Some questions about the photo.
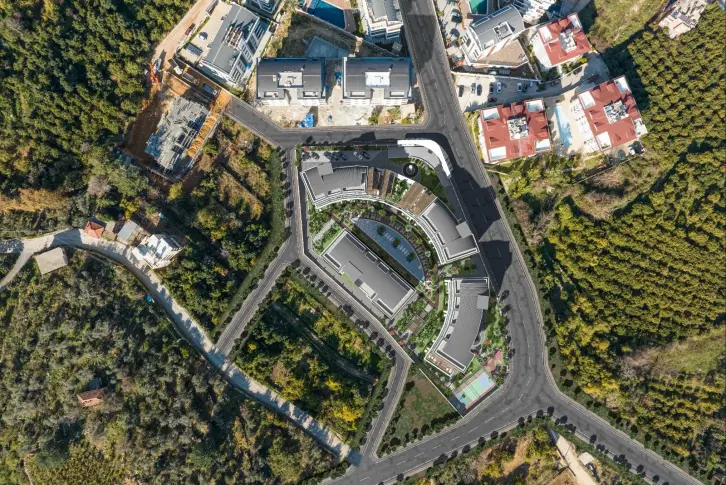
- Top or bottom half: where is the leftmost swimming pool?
top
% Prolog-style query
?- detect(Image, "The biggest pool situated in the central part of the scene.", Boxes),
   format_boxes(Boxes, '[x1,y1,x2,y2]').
[352,218,425,282]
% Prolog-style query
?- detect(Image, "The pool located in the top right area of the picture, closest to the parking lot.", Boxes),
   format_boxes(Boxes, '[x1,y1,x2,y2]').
[554,103,573,147]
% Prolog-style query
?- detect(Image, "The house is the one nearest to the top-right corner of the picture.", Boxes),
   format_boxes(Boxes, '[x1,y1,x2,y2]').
[652,0,708,42]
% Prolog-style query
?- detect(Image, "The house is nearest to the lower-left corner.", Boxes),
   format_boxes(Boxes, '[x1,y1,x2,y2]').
[78,388,107,406]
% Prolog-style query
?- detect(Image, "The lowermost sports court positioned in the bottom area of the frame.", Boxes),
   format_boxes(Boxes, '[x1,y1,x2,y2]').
[452,368,500,414]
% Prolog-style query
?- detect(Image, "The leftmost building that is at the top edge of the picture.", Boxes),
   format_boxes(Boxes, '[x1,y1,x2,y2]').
[203,2,267,82]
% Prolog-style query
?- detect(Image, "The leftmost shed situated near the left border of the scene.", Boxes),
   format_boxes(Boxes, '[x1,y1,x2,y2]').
[35,247,70,274]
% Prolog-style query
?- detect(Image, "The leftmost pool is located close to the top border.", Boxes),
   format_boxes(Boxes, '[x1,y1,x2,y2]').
[306,0,345,30]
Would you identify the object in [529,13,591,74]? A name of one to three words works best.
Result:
house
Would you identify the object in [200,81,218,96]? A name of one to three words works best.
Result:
vehicle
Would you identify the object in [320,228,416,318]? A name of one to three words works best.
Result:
building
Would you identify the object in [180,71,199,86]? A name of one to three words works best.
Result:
vehicle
